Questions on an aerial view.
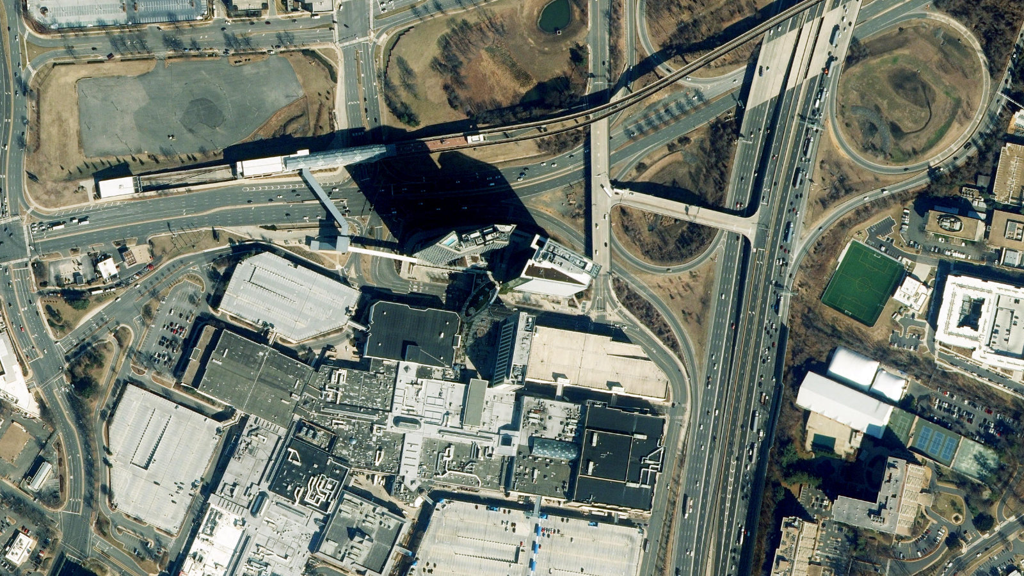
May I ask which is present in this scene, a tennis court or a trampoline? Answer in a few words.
tennis court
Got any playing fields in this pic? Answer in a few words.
Yes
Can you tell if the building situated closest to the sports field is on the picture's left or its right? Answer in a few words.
right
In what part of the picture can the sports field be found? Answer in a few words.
right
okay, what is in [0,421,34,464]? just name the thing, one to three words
building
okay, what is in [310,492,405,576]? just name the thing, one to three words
building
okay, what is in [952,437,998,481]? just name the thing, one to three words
tennis court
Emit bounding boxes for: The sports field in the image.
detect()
[822,240,904,327]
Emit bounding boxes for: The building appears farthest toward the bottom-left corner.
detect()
[5,532,33,565]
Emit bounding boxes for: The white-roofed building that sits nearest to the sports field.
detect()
[891,276,933,312]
